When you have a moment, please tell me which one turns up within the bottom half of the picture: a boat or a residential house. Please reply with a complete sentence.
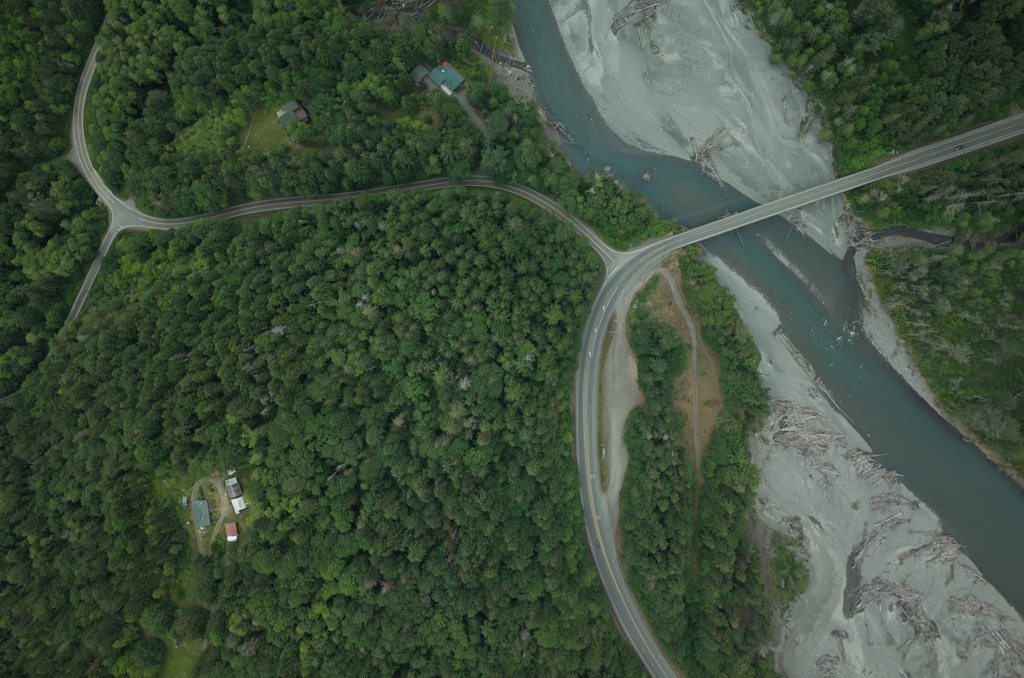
Visible within the bottom half of the picture is a residential house.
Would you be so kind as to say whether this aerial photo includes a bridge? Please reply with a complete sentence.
Yes, the frame does contain a bridge.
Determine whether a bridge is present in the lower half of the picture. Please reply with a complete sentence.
No, no bridge appears in the lower half of the picture.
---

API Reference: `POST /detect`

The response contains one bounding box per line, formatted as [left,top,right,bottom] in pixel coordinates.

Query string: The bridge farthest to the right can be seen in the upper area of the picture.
[672,174,850,251]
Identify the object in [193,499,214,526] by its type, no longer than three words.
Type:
house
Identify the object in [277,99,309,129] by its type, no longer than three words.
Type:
house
